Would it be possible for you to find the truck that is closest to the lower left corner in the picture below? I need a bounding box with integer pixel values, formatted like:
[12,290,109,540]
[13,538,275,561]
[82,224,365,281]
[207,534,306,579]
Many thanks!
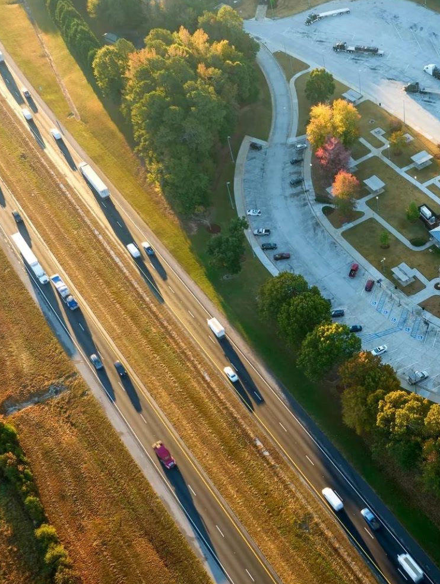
[150,438,177,473]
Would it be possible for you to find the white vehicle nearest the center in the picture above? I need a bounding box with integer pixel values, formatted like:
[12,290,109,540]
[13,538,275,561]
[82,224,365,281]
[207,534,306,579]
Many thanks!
[207,319,227,341]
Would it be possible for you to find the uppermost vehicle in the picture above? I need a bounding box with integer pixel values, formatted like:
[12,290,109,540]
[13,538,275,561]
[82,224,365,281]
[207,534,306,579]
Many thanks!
[305,8,352,27]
